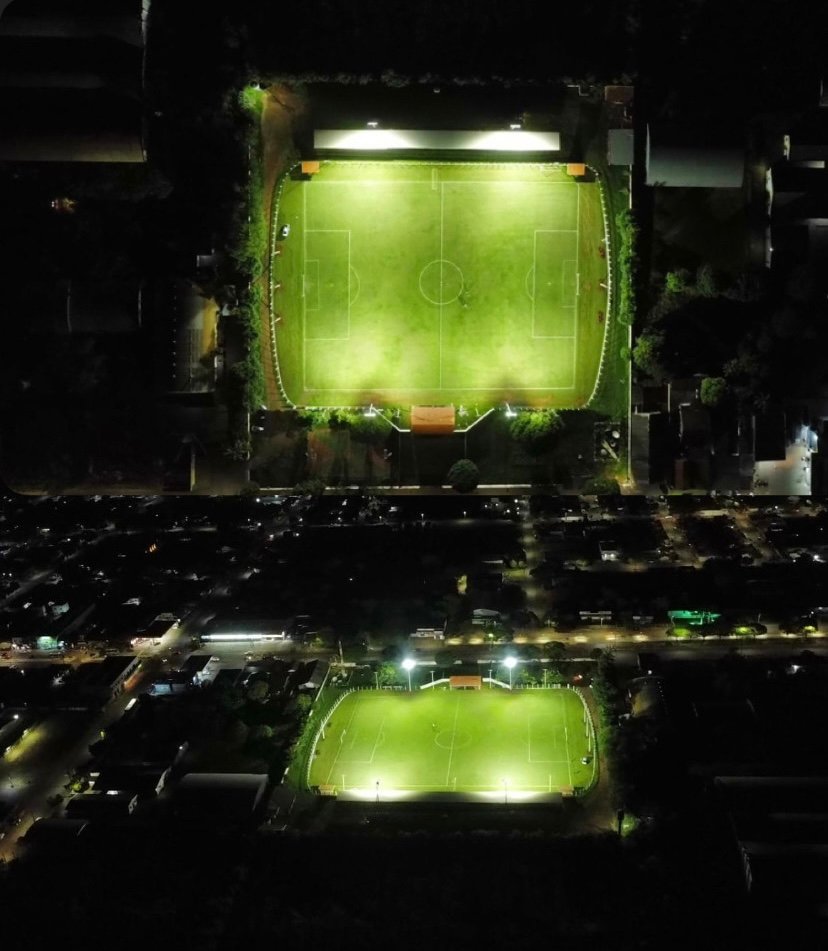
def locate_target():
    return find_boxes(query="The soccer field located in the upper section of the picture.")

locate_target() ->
[271,163,609,408]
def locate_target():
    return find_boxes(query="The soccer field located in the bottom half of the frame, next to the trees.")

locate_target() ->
[308,690,595,795]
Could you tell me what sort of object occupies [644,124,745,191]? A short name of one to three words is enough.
barn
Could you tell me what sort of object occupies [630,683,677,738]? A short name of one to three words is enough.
shed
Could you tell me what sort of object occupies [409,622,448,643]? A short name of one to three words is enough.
house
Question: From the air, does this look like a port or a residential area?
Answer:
residential area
